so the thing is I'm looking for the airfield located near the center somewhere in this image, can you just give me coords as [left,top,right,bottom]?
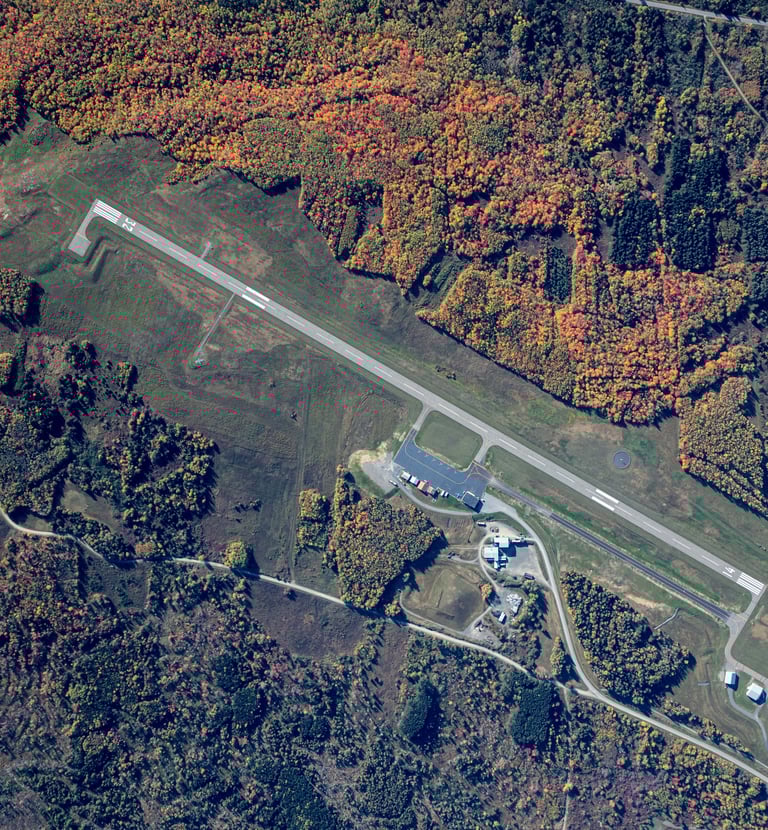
[69,199,768,686]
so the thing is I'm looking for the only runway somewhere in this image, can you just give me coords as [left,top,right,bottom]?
[91,199,767,597]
